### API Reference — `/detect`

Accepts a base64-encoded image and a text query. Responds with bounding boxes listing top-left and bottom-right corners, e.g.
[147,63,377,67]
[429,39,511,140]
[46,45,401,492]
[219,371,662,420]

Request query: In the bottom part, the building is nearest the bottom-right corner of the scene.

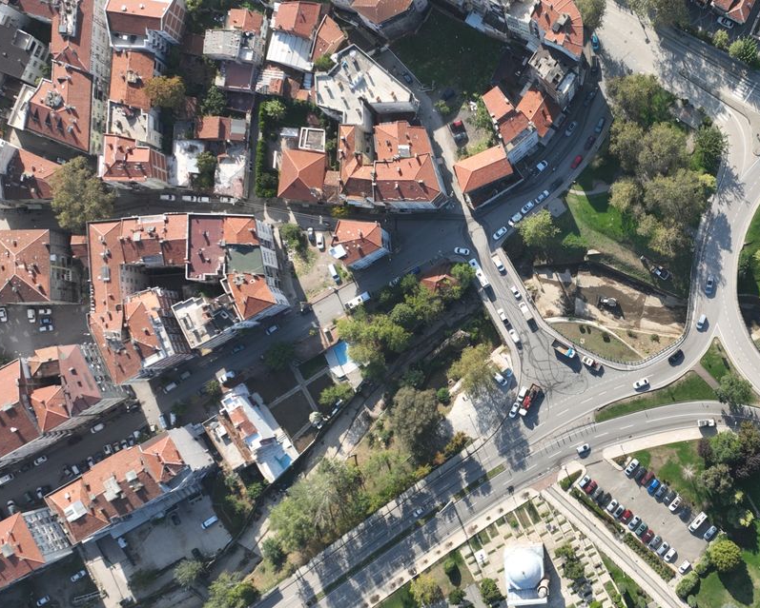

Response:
[503,537,552,607]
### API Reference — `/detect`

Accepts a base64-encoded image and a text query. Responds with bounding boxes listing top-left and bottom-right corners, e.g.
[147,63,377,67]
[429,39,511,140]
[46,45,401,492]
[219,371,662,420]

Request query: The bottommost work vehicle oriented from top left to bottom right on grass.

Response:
[642,258,669,282]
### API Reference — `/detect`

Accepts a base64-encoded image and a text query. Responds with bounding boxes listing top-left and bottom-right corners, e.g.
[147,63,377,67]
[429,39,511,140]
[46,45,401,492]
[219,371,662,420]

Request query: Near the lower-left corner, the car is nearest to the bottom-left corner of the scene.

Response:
[35,594,54,607]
